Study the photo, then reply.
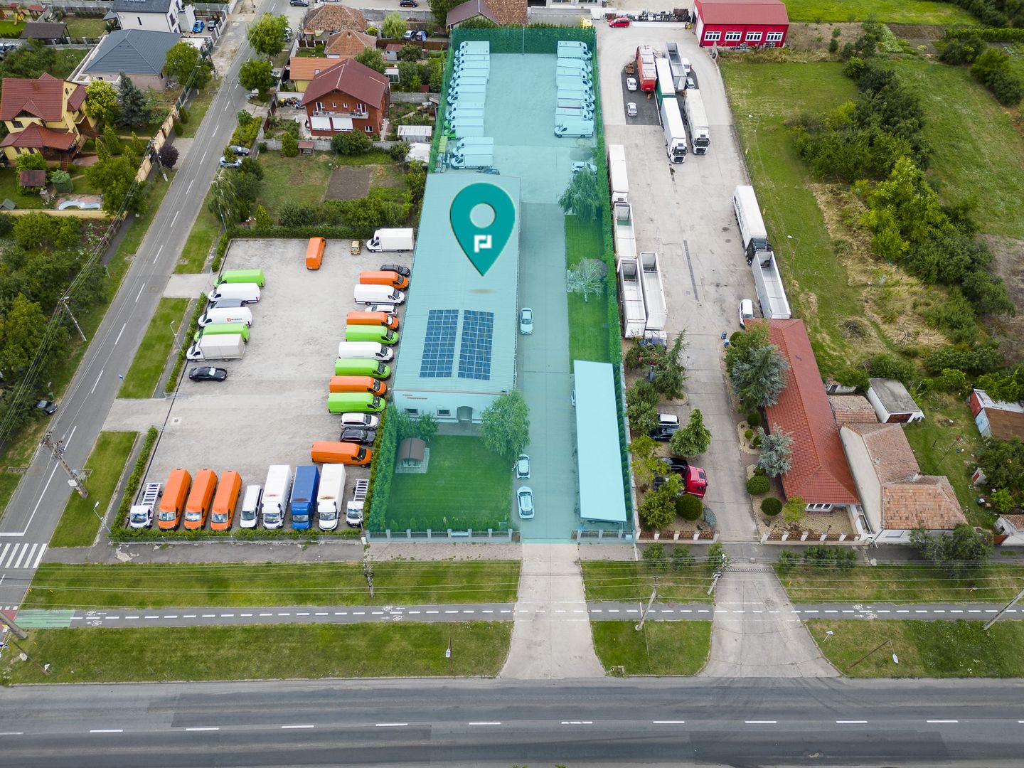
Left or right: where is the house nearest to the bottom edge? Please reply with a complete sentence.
The house nearest to the bottom edge appears in the right half of the scene.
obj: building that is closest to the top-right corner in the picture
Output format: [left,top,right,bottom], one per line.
[692,0,788,48]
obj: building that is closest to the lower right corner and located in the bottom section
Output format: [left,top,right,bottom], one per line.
[978,485,1024,542]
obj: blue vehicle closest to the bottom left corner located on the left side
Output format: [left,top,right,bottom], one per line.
[289,465,320,531]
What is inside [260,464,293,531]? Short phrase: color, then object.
white truck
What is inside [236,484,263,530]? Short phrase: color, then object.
white vehicle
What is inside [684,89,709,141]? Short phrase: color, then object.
white trailer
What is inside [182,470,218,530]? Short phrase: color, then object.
orange van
